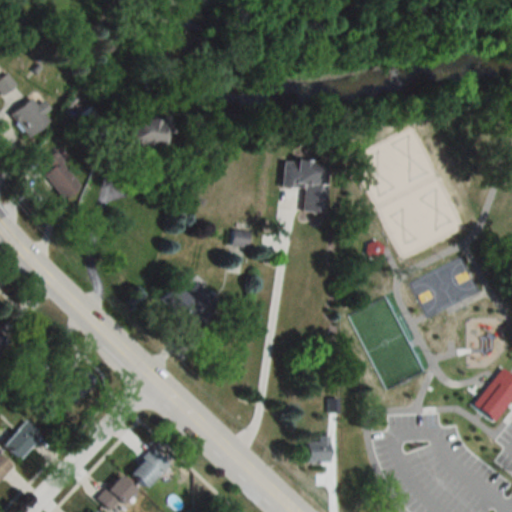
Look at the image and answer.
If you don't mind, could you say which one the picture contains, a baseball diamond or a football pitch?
football pitch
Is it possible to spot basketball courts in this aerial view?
Yes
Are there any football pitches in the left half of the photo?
No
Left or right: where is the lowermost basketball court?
right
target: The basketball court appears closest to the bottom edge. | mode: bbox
[410,258,480,318]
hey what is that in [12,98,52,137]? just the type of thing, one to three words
house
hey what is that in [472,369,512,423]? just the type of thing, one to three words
building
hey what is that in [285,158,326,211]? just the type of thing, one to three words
house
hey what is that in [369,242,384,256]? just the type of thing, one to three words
gazebo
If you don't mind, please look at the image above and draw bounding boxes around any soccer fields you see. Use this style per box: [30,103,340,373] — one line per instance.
[349,296,424,390]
